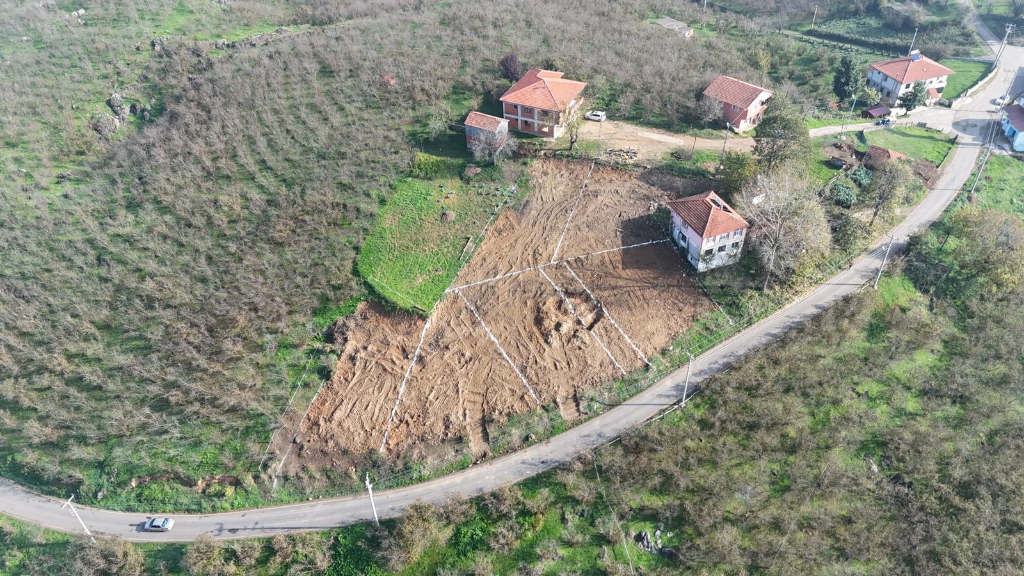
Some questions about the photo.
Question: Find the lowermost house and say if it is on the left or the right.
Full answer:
The lowermost house sits on the right side.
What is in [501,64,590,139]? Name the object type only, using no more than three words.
house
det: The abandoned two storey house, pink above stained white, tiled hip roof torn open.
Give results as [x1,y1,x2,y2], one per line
[665,191,748,271]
